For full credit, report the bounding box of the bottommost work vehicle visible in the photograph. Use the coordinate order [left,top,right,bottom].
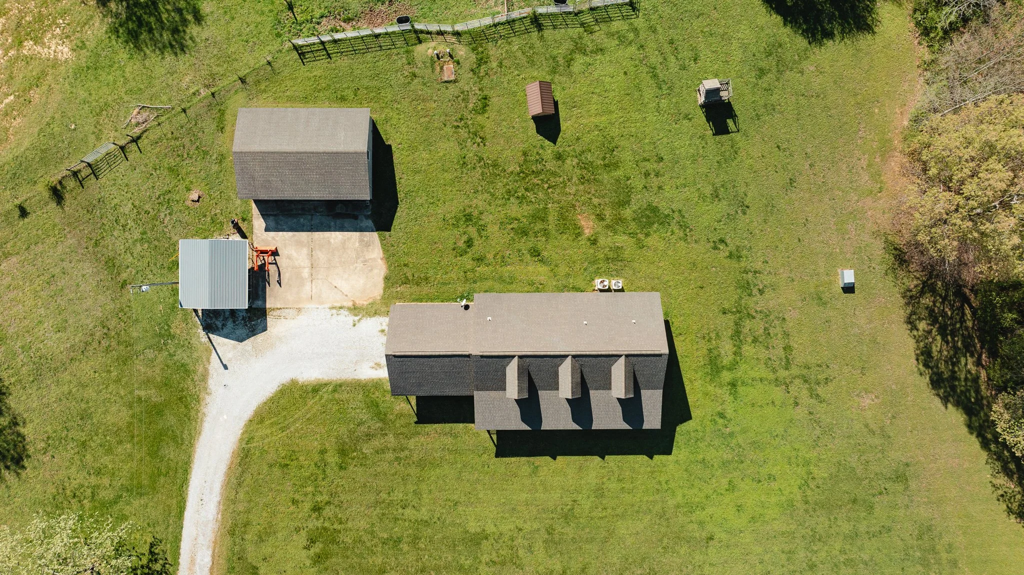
[255,246,278,273]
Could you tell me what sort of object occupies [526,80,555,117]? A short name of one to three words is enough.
shed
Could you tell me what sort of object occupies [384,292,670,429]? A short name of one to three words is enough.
house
